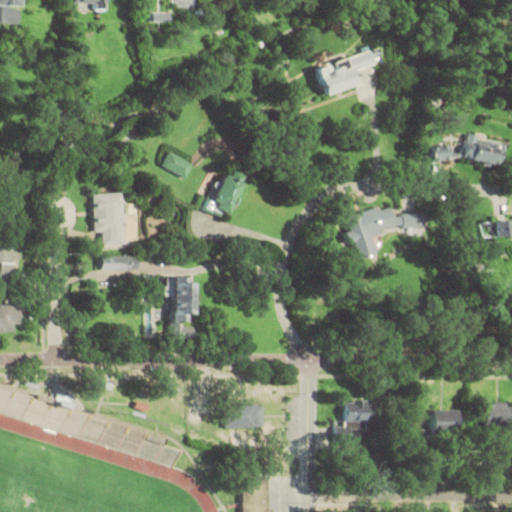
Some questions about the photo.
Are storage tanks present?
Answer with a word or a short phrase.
No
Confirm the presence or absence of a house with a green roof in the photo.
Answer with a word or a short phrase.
Yes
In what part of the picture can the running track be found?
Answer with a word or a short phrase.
bottom left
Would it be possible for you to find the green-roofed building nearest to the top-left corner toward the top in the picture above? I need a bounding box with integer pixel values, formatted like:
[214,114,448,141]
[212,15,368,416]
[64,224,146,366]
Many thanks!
[162,151,193,179]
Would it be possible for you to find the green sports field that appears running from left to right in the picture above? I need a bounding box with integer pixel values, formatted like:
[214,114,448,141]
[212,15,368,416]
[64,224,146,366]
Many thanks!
[0,429,202,512]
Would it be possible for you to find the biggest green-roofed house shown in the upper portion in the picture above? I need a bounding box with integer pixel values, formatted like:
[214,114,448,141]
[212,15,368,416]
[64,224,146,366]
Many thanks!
[218,171,246,213]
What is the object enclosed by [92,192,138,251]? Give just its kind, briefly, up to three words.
house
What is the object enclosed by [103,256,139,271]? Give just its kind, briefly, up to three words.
building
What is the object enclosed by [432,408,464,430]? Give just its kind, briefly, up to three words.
house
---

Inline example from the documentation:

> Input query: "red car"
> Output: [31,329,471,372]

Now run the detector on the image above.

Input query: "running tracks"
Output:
[0,412,221,512]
